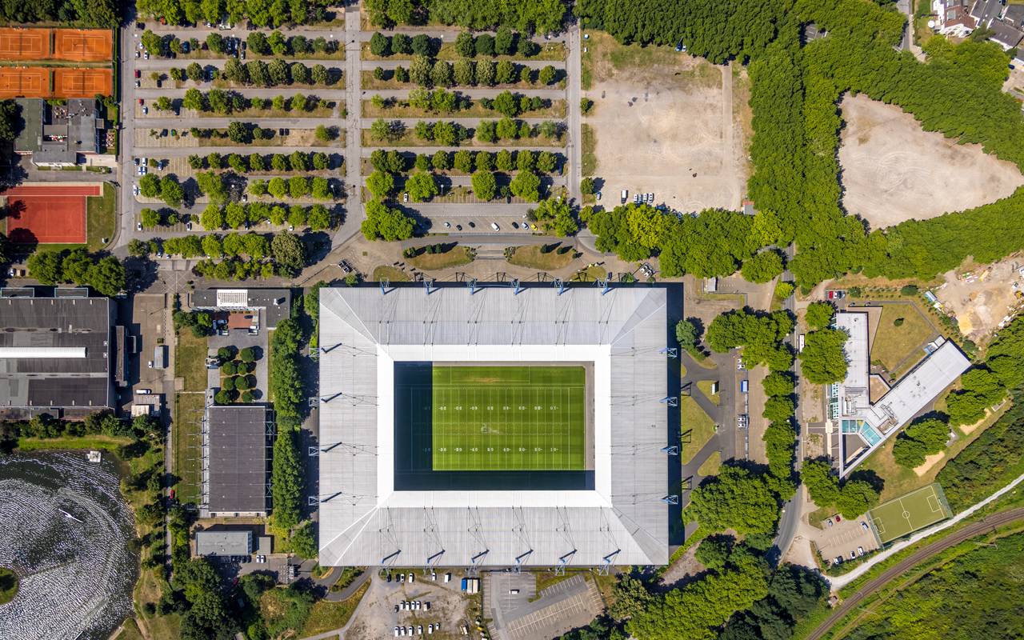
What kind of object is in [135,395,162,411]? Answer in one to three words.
shed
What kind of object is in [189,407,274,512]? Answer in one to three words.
building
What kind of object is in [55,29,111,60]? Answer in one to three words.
tennis court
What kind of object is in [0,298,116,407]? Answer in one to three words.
building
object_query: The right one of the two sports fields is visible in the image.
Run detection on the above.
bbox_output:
[867,482,958,548]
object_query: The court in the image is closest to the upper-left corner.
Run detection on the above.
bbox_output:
[0,29,50,59]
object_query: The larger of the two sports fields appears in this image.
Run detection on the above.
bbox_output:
[394,362,595,491]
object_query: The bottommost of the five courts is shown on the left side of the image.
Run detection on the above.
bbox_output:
[7,196,87,244]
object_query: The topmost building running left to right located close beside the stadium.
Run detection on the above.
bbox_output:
[191,289,292,329]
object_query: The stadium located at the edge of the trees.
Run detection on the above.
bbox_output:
[308,277,678,577]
